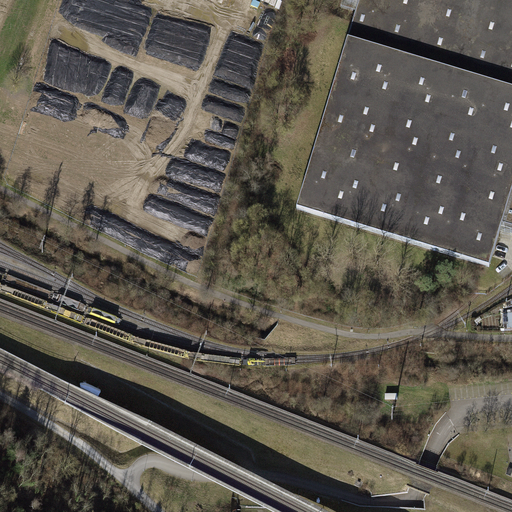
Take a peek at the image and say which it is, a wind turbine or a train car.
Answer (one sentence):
It is a train car that can be seen here.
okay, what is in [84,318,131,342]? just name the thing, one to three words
rail car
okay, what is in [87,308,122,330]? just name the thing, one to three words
rail car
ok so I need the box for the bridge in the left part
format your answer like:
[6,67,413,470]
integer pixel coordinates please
[0,348,329,512]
